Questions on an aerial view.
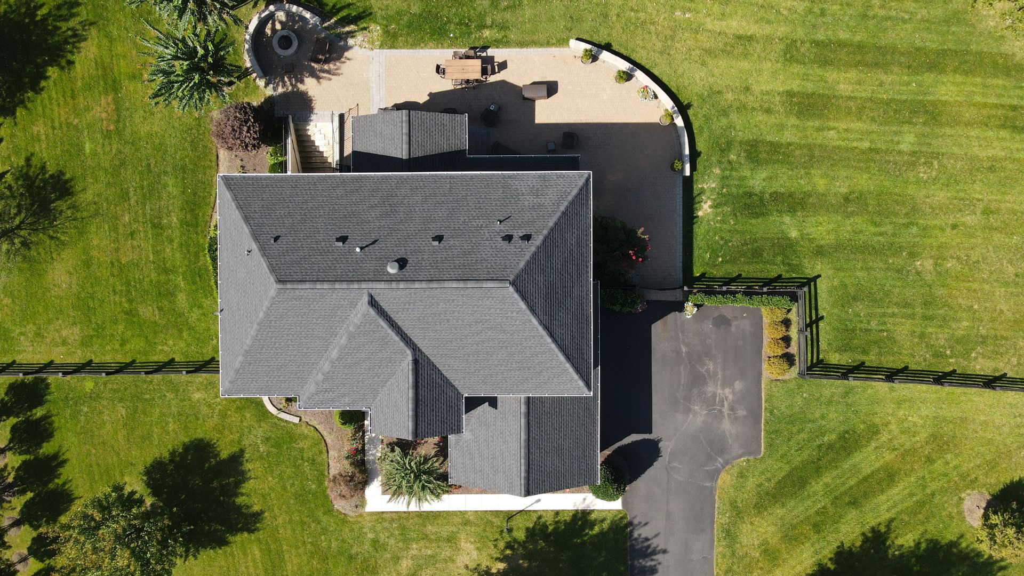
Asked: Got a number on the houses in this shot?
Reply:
1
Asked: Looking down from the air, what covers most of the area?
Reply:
grass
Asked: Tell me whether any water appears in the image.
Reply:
No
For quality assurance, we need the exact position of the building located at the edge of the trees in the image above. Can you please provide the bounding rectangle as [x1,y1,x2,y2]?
[209,109,601,496]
